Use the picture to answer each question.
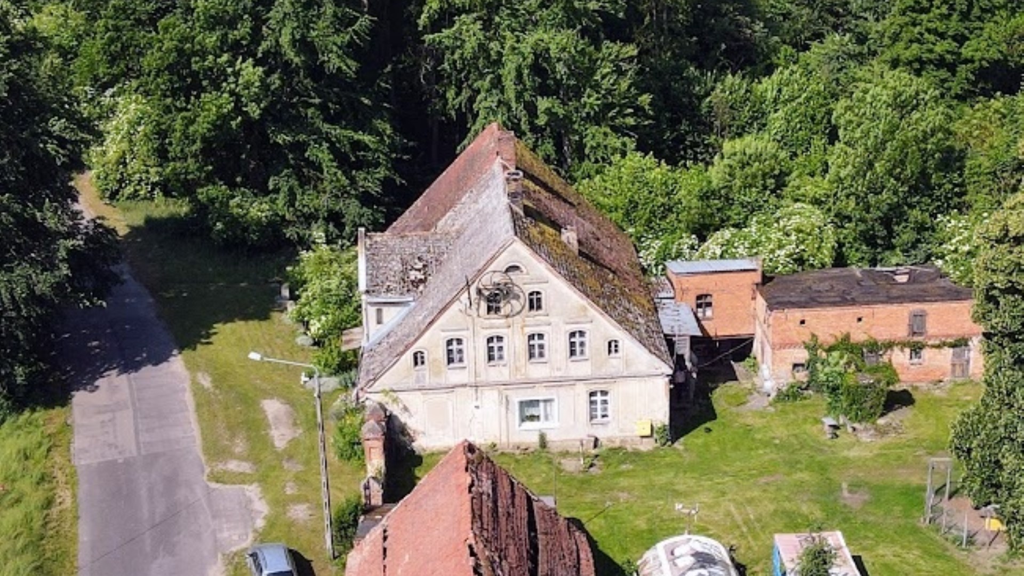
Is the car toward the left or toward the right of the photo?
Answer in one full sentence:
The car is on the left side of the image.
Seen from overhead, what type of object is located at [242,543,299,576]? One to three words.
car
